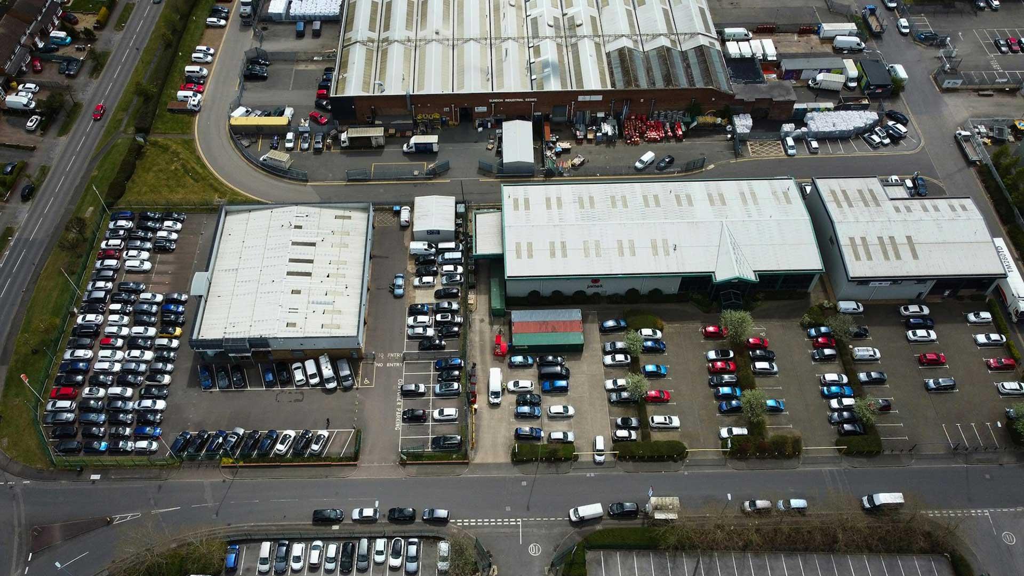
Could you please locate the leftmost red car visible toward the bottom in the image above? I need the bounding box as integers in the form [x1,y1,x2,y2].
[51,386,79,400]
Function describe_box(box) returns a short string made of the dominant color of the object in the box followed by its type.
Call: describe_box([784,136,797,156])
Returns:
white vehicle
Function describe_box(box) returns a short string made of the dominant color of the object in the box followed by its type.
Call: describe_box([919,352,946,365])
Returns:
red vehicle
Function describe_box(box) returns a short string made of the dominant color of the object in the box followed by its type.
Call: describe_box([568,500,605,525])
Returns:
white vehicle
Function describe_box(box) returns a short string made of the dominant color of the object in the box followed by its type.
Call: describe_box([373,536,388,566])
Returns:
white car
